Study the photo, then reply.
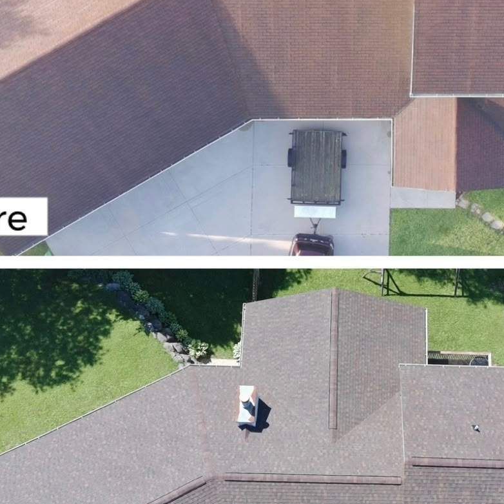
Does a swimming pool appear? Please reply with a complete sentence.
No, the frame has no swimming pool in it.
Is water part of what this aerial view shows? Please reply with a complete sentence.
No, water can't be seen anywhere here.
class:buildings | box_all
[0,0,504,261]
[0,288,504,504]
